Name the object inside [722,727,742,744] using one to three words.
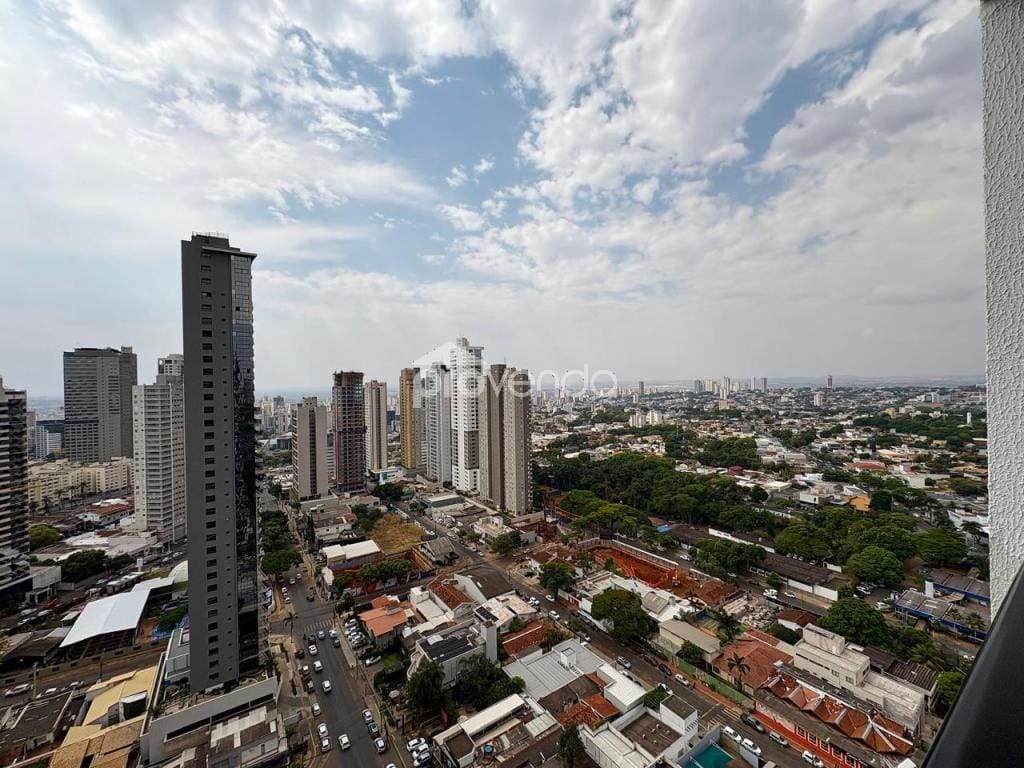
car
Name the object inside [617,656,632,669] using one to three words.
vehicle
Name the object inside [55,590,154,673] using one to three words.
building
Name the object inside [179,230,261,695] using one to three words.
building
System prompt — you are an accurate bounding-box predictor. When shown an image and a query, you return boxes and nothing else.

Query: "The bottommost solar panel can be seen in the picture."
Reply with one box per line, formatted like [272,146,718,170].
[424,631,478,661]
